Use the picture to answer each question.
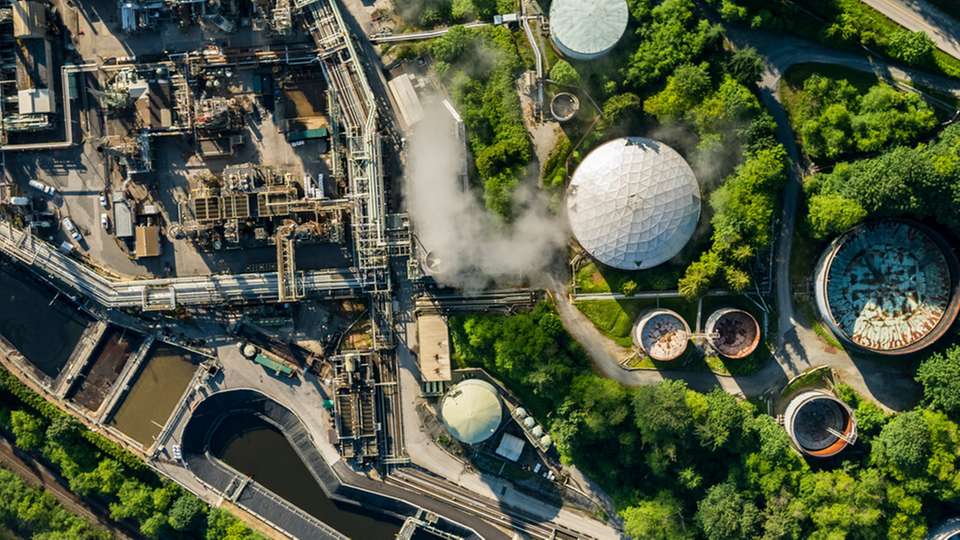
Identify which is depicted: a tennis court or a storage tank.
storage tank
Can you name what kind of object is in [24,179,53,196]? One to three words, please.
vehicle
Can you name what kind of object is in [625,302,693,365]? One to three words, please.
storage tank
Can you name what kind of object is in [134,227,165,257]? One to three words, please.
shed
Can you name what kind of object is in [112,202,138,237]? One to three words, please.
building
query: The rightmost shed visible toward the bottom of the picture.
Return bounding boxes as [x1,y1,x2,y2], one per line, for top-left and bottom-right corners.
[496,427,524,460]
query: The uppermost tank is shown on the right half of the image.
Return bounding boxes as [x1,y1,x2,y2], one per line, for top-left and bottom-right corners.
[543,0,630,68]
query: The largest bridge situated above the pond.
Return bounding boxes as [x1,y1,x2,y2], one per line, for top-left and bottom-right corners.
[276,232,302,304]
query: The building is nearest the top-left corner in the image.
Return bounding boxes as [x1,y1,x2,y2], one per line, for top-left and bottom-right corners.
[14,0,61,44]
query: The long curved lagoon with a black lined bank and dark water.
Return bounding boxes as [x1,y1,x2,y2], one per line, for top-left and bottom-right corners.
[178,387,490,540]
